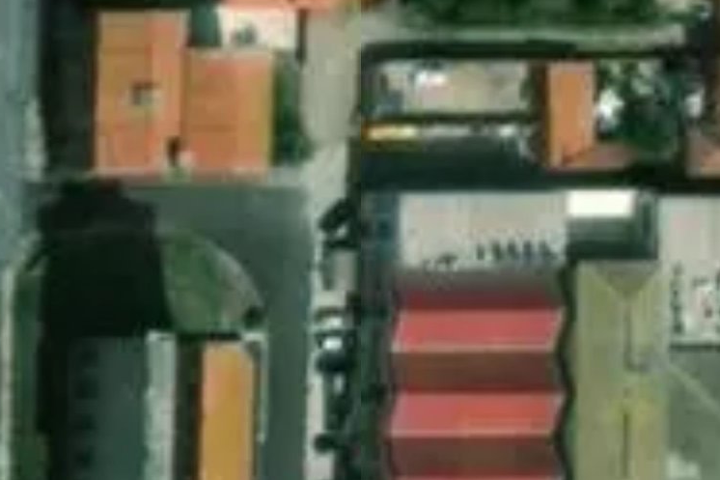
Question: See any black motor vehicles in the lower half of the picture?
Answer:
Yes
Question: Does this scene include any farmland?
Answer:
No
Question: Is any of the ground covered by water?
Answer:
No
